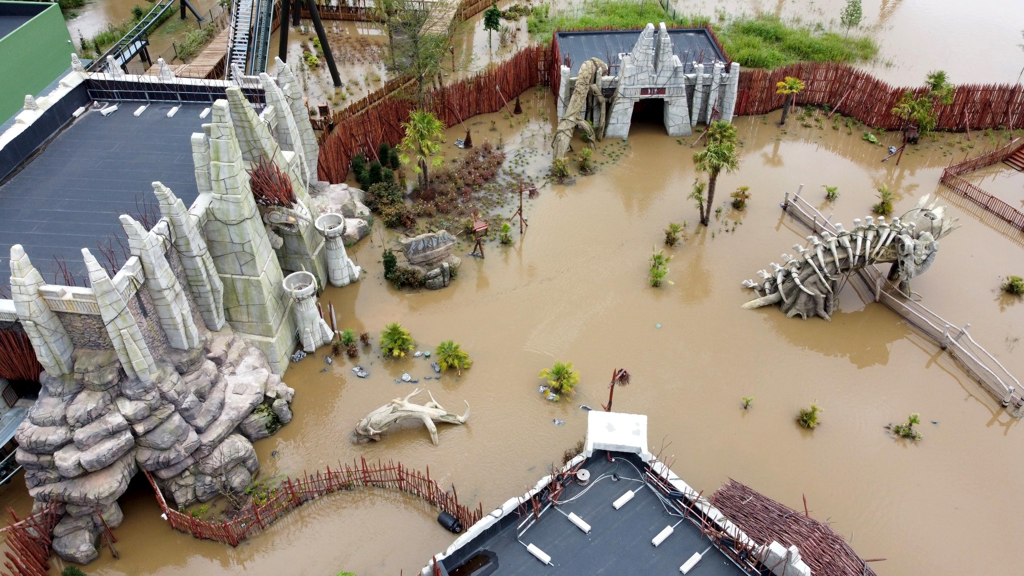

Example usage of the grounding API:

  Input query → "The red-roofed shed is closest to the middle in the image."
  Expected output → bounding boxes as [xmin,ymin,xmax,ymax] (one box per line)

[471,216,491,257]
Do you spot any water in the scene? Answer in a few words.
Yes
